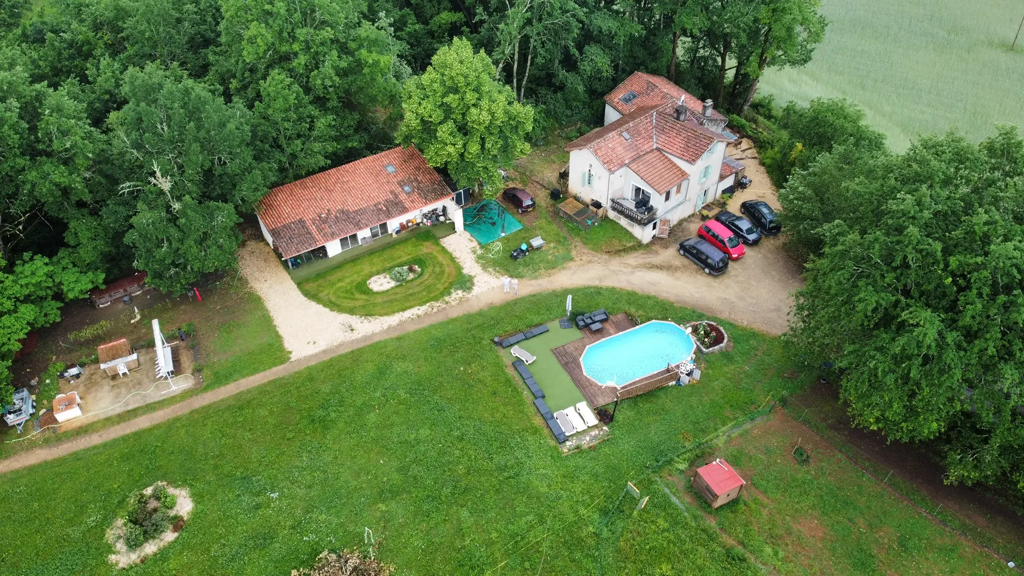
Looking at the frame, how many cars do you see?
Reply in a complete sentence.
There are 5 cars in the image.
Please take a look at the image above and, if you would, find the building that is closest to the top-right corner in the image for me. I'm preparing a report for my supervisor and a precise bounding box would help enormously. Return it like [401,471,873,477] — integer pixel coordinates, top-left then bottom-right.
[563,70,744,244]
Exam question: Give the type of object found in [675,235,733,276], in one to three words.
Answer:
car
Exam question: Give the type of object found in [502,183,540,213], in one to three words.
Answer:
car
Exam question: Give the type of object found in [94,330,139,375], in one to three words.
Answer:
shed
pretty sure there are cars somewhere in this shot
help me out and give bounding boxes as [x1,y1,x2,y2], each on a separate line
[741,198,788,237]
[713,207,767,247]
[696,214,751,261]
[502,183,540,213]
[675,235,733,276]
